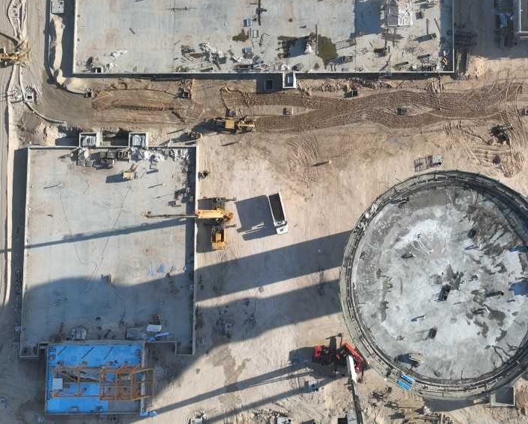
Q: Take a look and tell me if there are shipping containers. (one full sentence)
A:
No, the photo shows no shipping container.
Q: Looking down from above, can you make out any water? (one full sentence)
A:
Yes, the picture does contain water.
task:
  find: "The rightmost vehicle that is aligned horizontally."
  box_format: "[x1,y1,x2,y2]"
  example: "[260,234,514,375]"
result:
[210,116,259,133]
